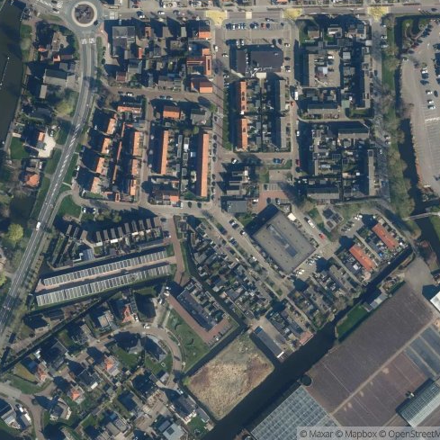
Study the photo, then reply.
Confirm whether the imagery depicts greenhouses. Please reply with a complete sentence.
Yes, the picture does show a greenhouse.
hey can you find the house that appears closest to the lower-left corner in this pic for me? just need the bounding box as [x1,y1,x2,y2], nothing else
[0,398,20,424]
